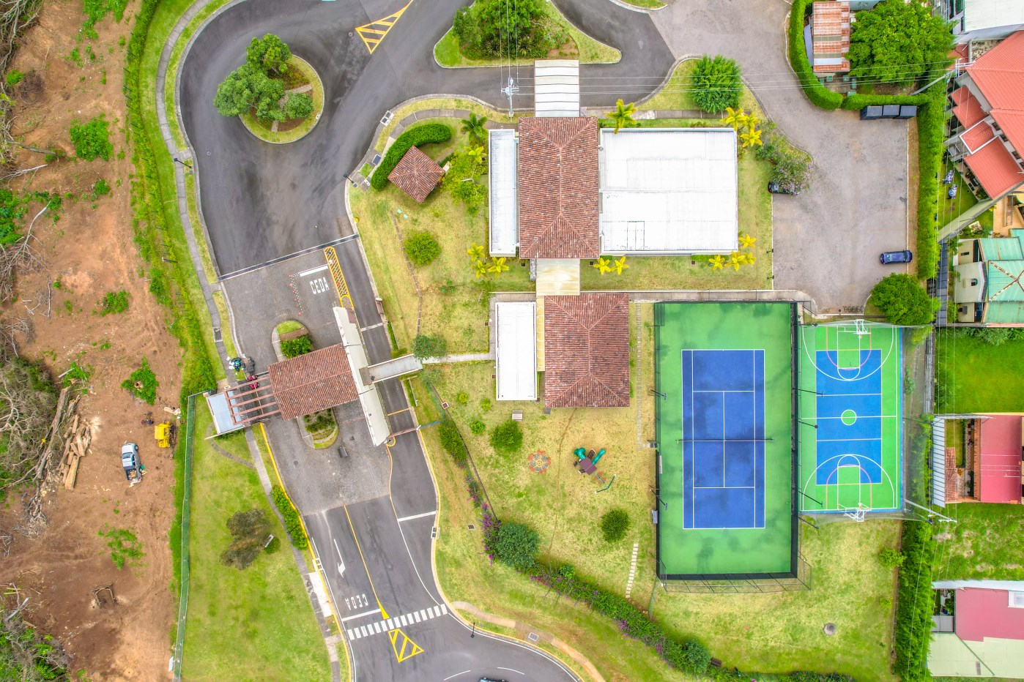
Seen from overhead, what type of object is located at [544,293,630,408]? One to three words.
house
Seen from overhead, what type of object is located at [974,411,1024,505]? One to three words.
house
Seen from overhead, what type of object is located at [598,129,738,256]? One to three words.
building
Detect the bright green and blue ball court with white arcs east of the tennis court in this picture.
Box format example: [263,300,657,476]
[799,325,903,515]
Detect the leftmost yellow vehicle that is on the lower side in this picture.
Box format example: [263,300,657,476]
[148,425,178,447]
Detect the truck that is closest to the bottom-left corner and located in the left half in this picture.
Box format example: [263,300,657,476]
[116,443,140,487]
